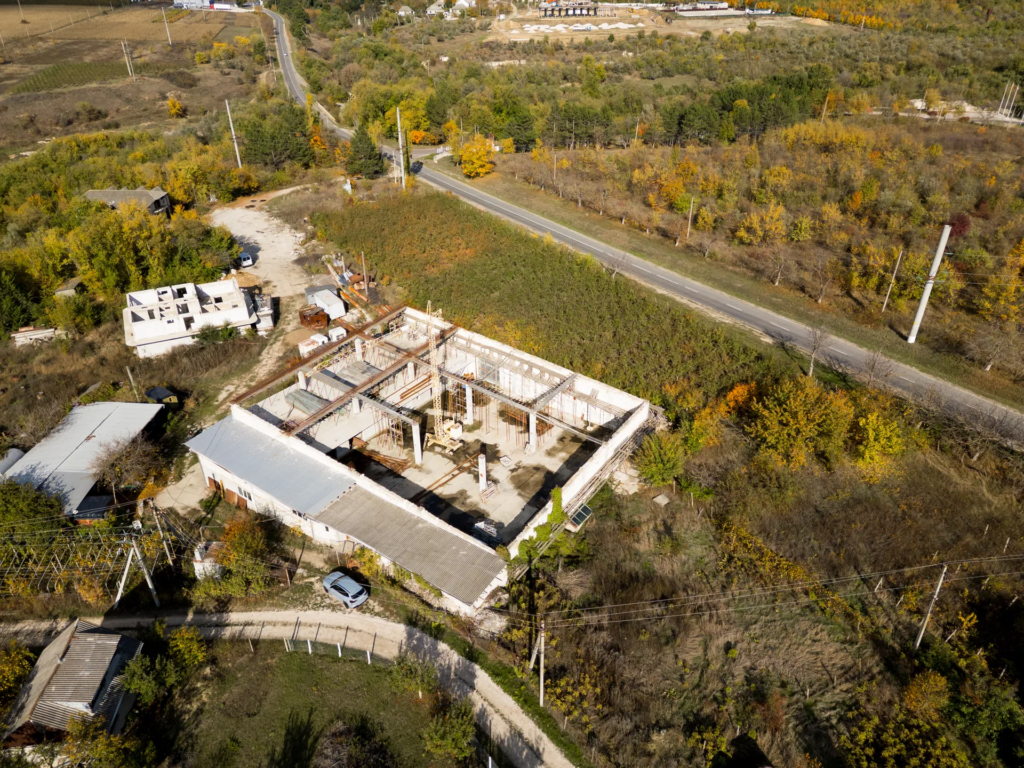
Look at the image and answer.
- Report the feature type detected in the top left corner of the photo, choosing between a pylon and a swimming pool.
pylon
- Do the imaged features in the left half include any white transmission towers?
Yes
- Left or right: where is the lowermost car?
left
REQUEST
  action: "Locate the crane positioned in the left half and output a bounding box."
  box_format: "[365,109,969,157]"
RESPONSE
[309,304,472,455]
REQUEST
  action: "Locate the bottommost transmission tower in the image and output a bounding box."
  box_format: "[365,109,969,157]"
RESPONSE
[907,226,952,343]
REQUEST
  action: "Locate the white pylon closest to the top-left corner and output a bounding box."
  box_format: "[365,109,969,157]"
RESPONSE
[223,100,242,165]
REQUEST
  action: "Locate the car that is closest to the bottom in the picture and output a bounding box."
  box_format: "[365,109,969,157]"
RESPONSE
[322,572,367,608]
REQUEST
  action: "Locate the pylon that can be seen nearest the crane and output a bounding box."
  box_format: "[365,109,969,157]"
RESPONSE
[392,106,410,188]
